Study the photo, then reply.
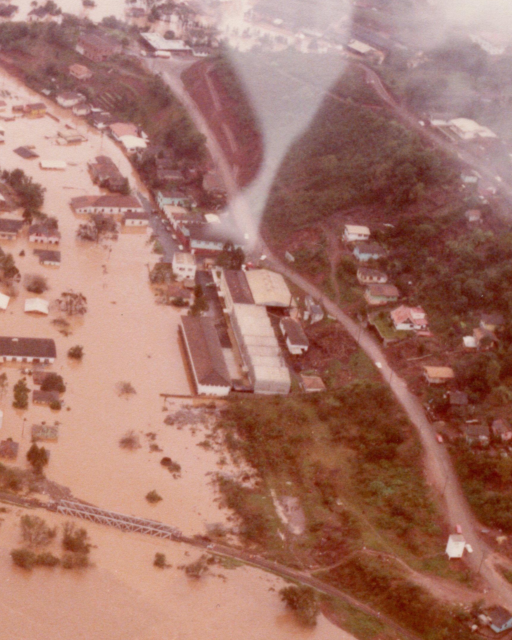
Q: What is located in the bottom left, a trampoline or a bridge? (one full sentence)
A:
There is a bridge in the bottom left.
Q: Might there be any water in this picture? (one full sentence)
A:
Yes, the picture does contain water.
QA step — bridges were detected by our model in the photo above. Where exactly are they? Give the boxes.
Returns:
[52,501,179,543]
